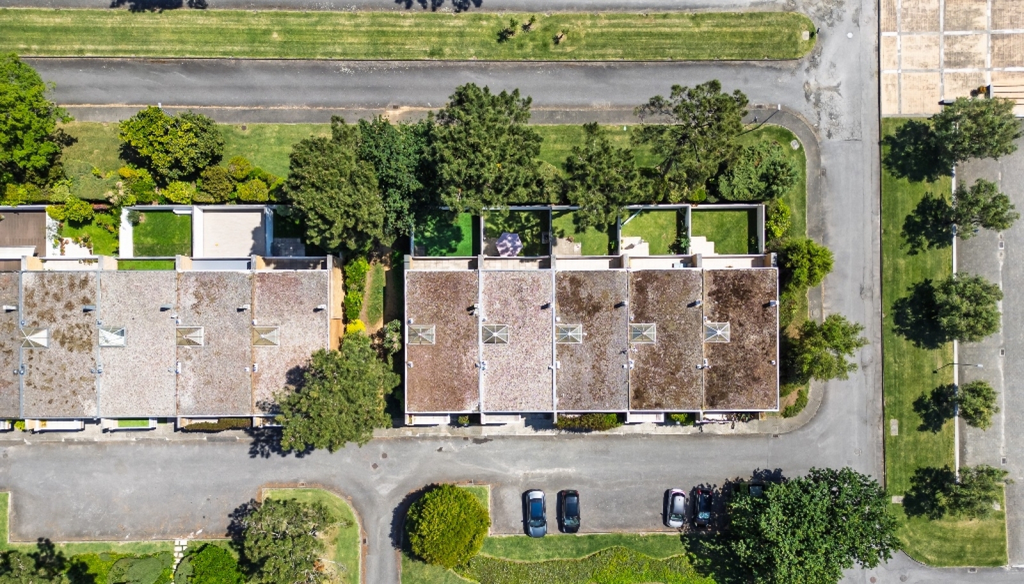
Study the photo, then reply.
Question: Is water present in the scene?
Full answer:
No, there is no water in the image.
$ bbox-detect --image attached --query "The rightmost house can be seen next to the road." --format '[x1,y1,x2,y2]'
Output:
[694,256,780,422]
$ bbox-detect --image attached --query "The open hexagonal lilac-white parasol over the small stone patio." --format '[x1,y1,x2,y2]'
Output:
[496,233,523,256]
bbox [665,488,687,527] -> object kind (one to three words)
car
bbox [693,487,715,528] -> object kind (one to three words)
car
